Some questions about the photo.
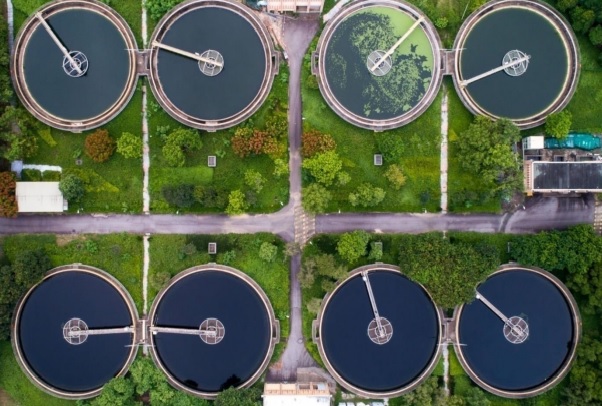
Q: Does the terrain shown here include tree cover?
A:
Yes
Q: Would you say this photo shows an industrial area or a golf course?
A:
industrial area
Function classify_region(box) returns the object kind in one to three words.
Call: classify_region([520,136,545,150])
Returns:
shed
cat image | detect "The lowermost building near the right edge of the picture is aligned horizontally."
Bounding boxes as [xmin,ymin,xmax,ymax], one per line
[517,162,602,194]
